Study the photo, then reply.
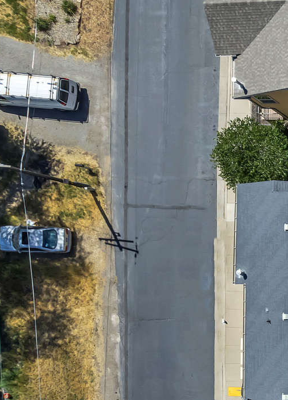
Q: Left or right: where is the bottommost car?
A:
left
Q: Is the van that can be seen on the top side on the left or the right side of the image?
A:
left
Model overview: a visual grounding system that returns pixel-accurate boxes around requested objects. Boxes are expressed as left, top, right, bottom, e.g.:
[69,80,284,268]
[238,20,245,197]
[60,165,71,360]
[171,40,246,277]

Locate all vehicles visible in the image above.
[1,219,75,255]
[0,69,82,114]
